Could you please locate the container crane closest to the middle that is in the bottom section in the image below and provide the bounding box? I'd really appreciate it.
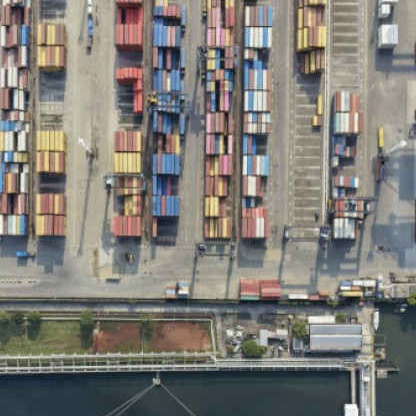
[193,240,239,260]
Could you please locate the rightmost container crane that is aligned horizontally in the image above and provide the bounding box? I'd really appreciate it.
[322,195,376,218]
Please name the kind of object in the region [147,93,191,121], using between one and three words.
container crane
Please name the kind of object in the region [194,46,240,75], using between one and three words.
container crane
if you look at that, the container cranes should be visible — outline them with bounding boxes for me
[194,46,240,75]
[193,240,239,260]
[147,93,191,121]
[278,225,330,245]
[102,173,150,197]
[322,195,376,218]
